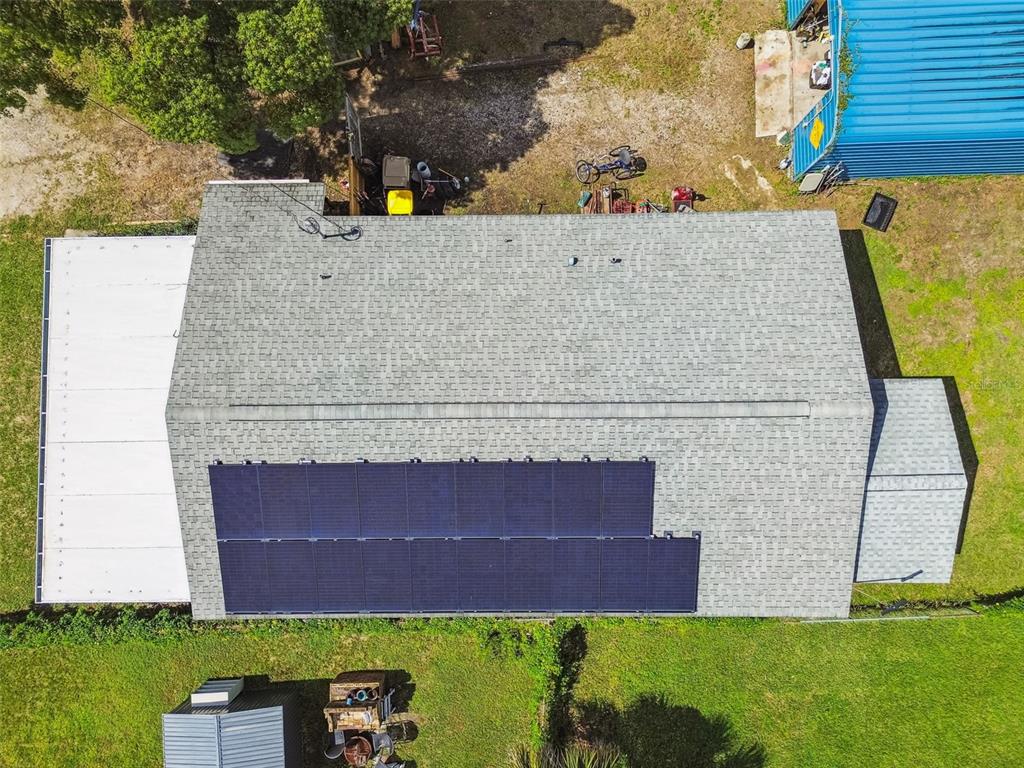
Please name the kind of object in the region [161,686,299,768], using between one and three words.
shed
